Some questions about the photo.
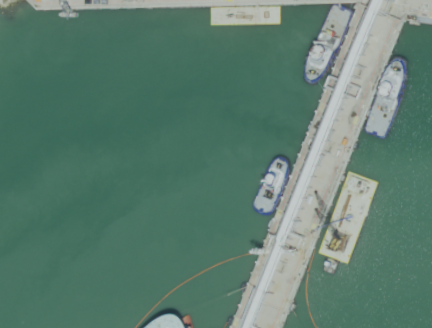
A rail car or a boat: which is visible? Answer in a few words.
boat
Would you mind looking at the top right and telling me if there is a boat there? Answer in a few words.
Yes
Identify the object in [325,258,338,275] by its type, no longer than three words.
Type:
boat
